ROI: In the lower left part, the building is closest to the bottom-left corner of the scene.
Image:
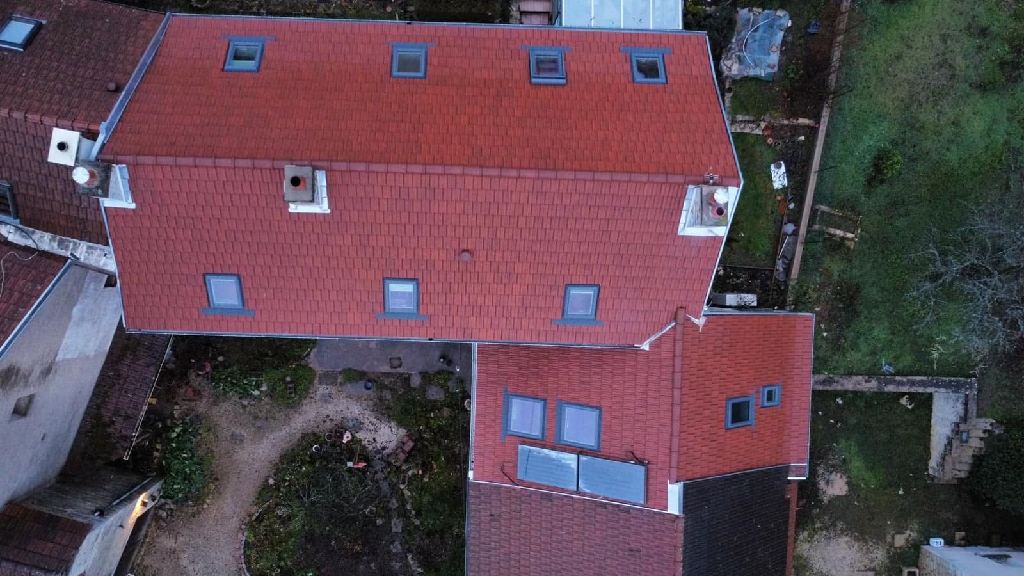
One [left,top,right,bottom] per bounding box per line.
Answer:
[0,463,161,576]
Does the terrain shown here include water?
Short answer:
No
